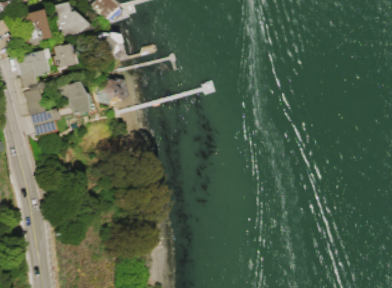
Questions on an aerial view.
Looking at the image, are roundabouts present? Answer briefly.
No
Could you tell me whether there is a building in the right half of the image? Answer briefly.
No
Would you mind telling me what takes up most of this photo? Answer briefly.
water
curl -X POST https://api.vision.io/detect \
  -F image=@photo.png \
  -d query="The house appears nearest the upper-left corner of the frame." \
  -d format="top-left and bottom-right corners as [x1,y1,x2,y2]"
[27,10,51,46]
